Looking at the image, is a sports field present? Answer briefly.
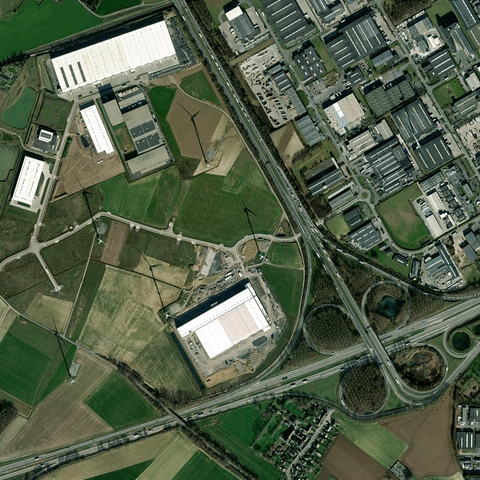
Yes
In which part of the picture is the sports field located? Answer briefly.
right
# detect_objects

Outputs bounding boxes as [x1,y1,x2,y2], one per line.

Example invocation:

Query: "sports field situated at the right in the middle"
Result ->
[375,187,432,250]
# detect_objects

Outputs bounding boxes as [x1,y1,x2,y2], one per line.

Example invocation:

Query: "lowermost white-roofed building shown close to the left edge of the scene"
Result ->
[10,156,45,208]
